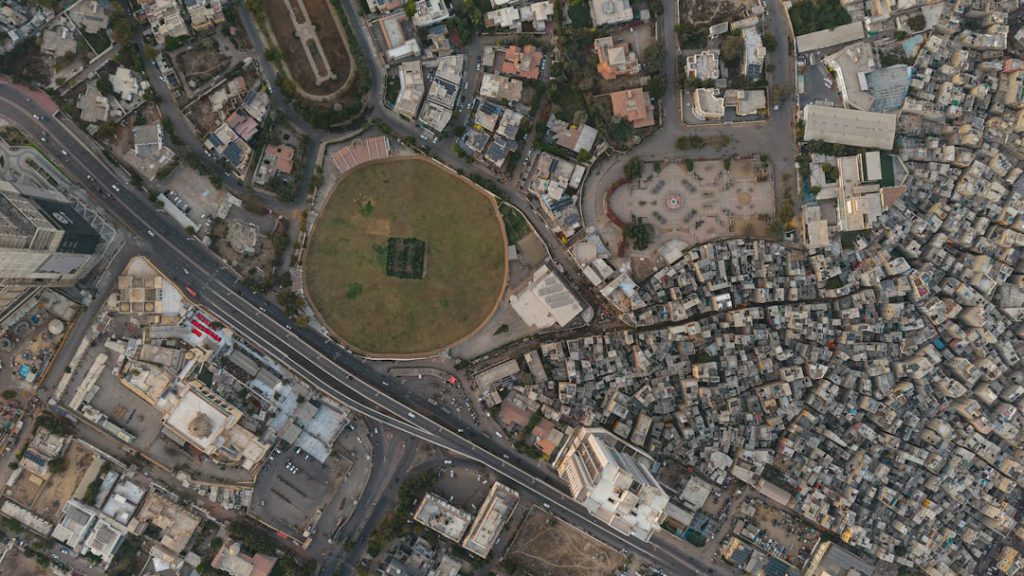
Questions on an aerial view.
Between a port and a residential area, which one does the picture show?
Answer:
residential area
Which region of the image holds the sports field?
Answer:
center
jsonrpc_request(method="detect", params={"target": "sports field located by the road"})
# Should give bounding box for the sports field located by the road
[304,156,507,358]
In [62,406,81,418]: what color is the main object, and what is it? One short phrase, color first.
gray vehicle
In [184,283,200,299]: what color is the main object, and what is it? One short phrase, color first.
red vehicle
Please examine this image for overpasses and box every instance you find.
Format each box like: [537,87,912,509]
[202,276,707,576]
